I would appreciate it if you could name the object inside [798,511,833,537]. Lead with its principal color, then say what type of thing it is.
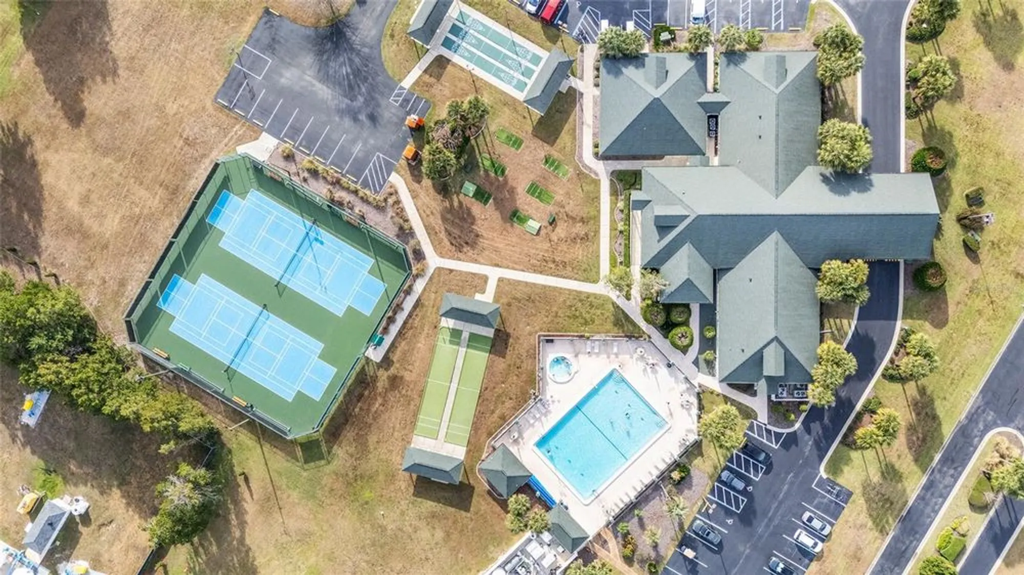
white car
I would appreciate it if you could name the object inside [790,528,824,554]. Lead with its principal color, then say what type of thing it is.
white car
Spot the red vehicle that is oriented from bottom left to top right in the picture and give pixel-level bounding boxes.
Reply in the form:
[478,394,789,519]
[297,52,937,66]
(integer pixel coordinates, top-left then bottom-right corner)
[538,0,564,27]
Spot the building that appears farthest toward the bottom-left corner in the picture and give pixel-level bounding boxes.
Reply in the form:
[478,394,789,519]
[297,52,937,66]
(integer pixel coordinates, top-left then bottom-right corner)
[23,497,71,556]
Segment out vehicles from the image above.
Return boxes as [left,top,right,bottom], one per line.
[790,528,824,554]
[736,439,775,468]
[798,511,833,537]
[763,553,804,575]
[402,113,428,130]
[538,0,564,27]
[690,519,724,546]
[678,543,697,561]
[715,468,749,495]
[525,0,543,13]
